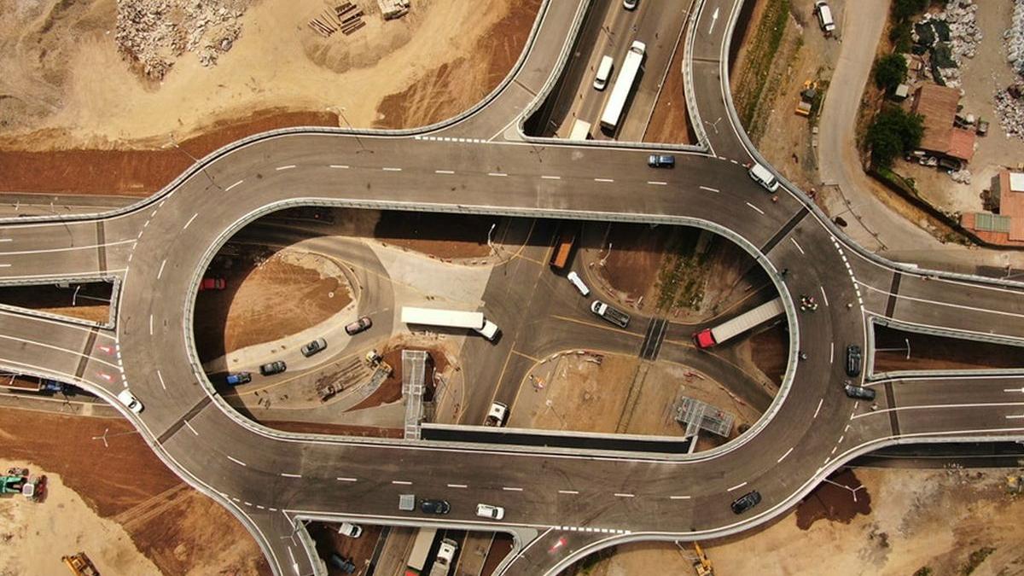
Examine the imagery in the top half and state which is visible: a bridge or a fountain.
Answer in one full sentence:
The one visible in the top half is a bridge.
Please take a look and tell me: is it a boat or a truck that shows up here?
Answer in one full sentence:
Looking from above, you can make out a truck.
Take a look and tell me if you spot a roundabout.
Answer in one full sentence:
Yes, I can see a roundabout in this picture.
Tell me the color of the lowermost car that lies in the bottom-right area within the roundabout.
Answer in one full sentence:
The lowermost car that lies in the bottom-right area within the roundabout is black.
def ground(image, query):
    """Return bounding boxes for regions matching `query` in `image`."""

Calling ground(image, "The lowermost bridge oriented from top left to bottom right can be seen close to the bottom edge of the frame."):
[209,493,330,576]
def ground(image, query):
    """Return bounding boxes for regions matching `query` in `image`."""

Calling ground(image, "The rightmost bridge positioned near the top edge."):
[681,0,767,165]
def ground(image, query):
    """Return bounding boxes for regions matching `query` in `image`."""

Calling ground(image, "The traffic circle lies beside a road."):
[106,125,876,546]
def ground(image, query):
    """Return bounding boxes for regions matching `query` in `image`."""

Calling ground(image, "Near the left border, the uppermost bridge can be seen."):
[0,186,165,289]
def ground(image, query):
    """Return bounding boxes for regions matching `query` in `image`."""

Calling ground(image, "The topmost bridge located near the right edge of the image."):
[827,220,1024,348]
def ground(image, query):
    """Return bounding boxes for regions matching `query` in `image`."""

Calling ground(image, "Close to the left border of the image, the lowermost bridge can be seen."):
[0,301,130,416]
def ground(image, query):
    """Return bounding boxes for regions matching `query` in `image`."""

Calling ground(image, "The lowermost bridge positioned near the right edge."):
[817,368,1024,481]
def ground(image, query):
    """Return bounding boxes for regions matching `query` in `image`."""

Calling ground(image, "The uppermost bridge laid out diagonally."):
[414,0,593,143]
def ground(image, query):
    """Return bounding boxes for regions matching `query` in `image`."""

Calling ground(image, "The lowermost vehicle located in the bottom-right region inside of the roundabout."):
[729,490,761,515]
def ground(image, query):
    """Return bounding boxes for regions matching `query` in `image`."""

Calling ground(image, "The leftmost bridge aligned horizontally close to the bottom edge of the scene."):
[491,526,636,576]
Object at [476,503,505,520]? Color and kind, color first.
white car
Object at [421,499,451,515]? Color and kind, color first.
black car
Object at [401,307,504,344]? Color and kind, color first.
white truck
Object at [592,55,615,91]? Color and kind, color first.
white vehicle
